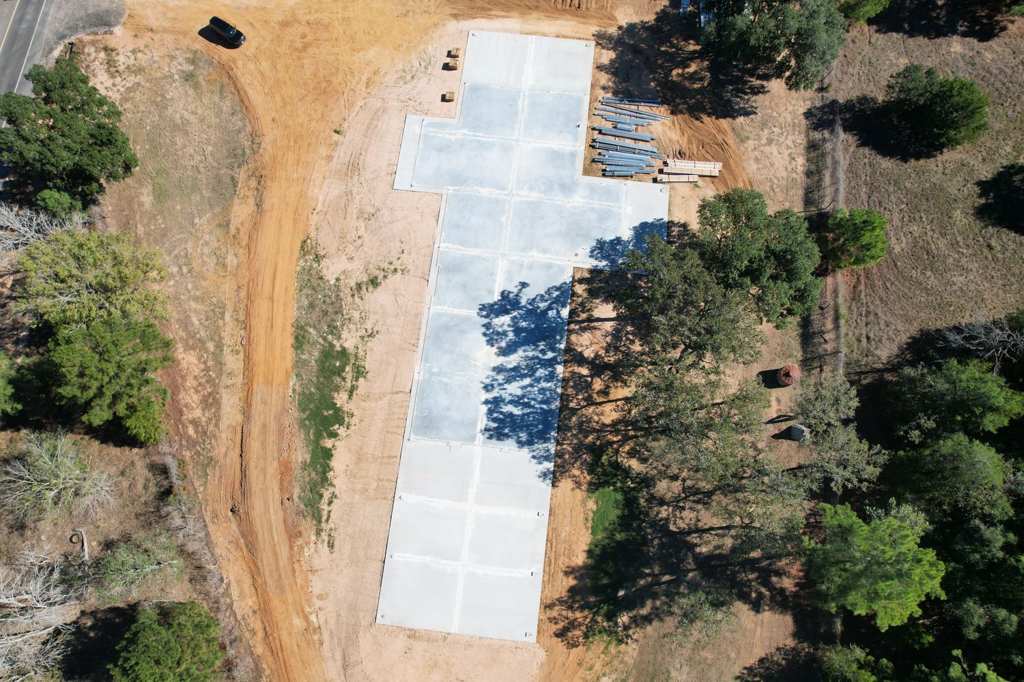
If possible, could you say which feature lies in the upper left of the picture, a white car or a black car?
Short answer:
black car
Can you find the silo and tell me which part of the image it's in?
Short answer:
right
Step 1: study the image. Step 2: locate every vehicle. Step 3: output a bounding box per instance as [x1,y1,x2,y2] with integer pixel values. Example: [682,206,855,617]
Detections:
[206,15,247,47]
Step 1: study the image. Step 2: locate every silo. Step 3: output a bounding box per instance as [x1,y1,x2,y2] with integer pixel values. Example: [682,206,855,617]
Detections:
[777,364,804,387]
